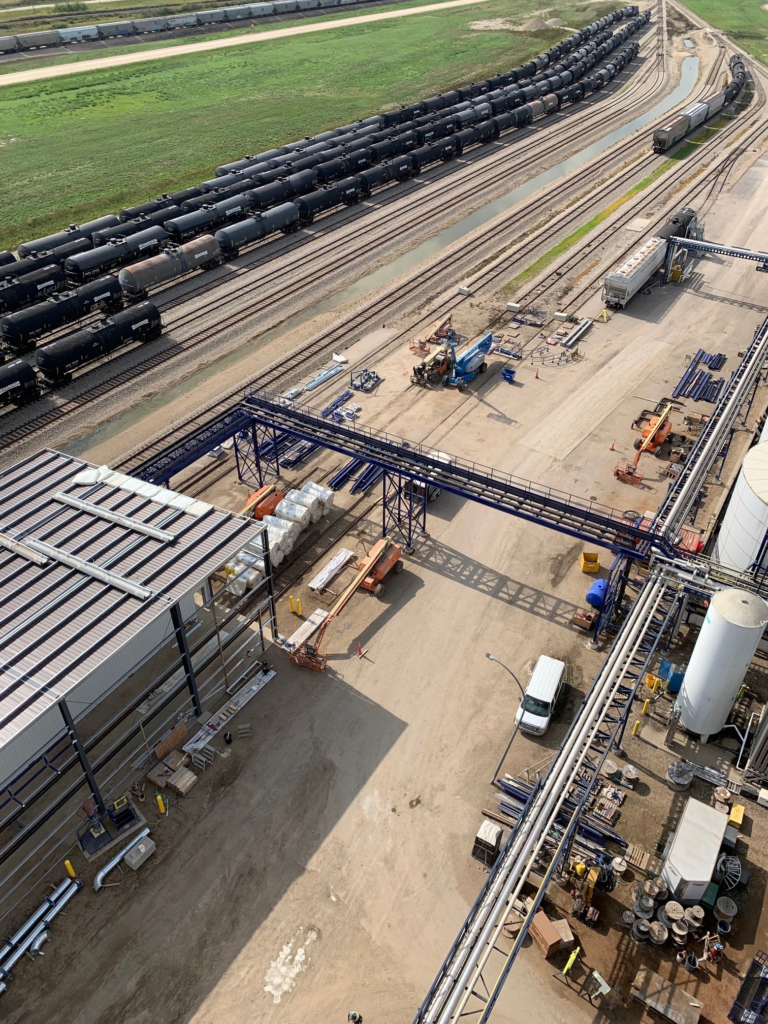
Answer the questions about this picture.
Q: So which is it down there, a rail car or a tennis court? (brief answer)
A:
rail car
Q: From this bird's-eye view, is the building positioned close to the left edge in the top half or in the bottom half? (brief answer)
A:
bottom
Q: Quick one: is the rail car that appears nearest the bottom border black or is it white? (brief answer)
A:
black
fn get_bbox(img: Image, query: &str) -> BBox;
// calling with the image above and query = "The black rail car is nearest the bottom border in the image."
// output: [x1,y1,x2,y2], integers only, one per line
[0,357,47,408]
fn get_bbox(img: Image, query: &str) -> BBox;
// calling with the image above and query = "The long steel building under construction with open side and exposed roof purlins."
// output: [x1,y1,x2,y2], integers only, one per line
[0,442,280,917]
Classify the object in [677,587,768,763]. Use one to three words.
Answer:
silo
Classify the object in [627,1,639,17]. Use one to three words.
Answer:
rail car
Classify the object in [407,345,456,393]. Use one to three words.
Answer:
work vehicle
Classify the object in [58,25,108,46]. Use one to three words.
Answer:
rail car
